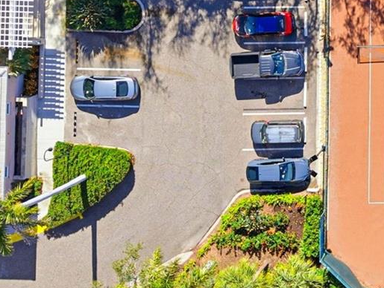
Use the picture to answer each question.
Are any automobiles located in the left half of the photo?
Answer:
Yes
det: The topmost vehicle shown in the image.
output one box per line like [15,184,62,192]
[234,10,294,39]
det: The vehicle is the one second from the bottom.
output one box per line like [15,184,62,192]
[253,120,305,149]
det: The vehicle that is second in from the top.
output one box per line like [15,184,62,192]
[230,49,306,81]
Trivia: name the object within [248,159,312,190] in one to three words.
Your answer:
car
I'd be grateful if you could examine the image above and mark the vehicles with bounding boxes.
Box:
[248,159,312,190]
[234,10,294,39]
[230,49,306,81]
[253,120,305,149]
[74,74,141,105]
